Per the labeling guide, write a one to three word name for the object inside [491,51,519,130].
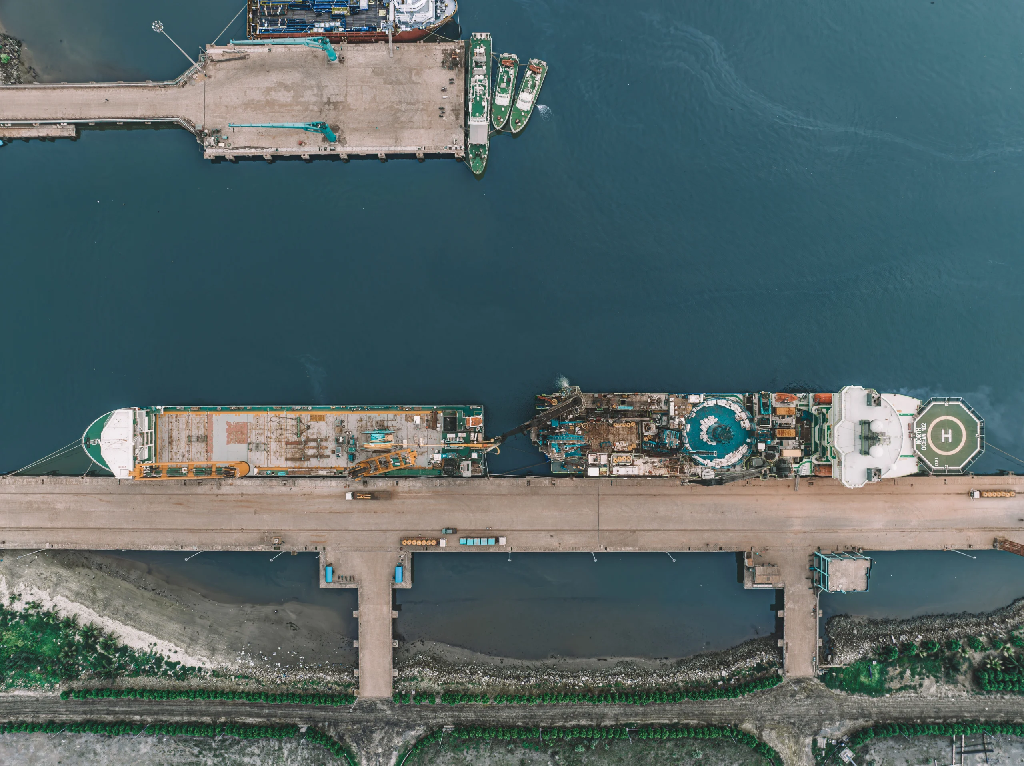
boat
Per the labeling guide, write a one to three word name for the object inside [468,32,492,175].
boat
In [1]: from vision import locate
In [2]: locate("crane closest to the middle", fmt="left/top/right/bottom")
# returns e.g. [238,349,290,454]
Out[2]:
[350,449,418,480]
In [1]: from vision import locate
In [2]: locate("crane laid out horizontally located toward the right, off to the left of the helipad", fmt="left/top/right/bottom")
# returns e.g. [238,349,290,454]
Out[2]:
[681,457,797,486]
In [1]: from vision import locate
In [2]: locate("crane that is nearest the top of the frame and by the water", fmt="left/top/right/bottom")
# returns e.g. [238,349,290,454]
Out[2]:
[230,32,339,64]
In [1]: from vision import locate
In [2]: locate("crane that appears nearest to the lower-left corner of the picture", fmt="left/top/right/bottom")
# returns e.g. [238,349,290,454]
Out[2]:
[128,460,256,480]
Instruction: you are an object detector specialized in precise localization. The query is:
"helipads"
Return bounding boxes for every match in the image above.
[913,397,985,474]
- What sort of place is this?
port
